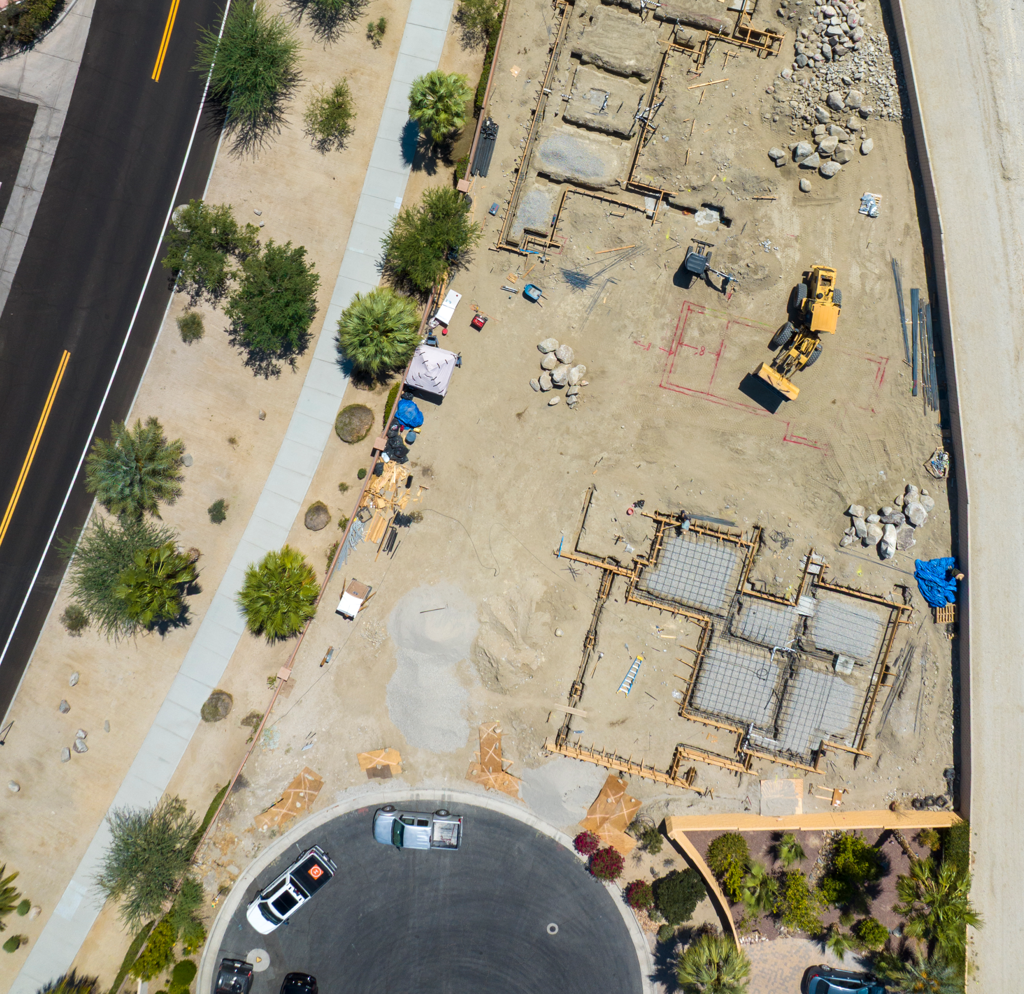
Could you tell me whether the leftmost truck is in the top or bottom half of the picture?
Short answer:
bottom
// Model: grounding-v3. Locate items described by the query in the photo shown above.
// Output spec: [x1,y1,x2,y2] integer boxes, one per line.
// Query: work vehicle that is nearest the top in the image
[682,238,737,281]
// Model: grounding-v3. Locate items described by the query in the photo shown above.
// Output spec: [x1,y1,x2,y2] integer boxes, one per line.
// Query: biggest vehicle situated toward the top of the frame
[755,268,842,398]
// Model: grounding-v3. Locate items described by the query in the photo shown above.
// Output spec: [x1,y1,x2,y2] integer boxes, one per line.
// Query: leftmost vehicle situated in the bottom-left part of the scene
[212,954,253,994]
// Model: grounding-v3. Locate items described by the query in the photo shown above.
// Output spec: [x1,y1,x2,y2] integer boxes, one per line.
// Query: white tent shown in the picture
[404,343,464,397]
